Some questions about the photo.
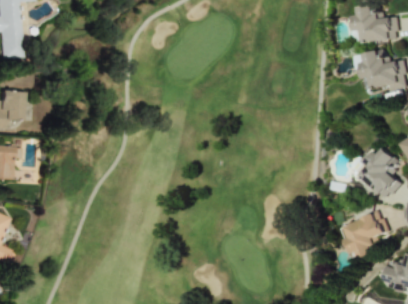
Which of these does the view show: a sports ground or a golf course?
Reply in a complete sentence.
This looks like a golf course.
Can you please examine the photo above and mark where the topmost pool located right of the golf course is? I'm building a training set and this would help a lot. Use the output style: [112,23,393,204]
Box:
[337,22,350,42]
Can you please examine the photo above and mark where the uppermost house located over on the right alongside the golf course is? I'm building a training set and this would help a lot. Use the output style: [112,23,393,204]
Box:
[348,4,400,43]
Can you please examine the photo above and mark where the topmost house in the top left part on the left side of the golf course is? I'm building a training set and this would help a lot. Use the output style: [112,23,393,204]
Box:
[0,0,36,58]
